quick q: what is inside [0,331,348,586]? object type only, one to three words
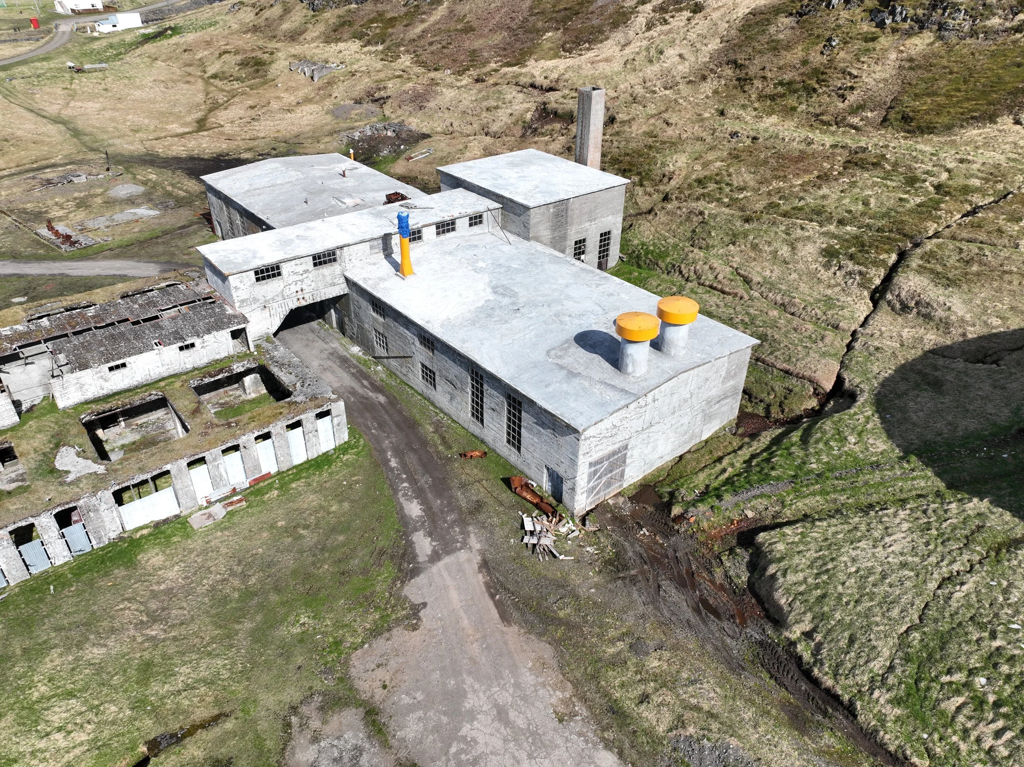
building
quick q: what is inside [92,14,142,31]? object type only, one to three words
house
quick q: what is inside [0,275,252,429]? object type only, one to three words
shed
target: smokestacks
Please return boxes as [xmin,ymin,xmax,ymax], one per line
[574,86,606,172]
